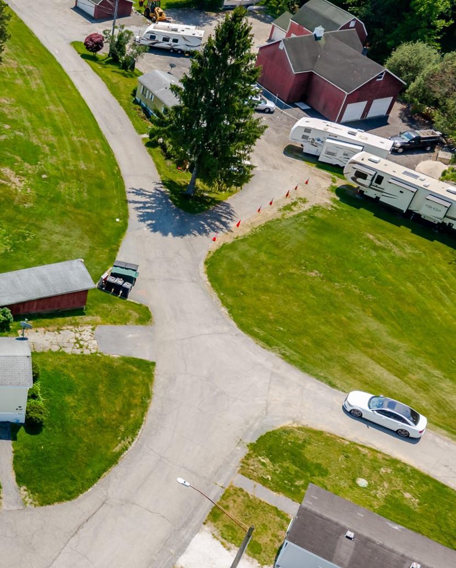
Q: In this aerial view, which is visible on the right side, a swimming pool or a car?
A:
car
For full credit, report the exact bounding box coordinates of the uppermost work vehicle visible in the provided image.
[138,0,178,21]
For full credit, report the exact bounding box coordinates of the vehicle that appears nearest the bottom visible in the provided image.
[344,391,430,438]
